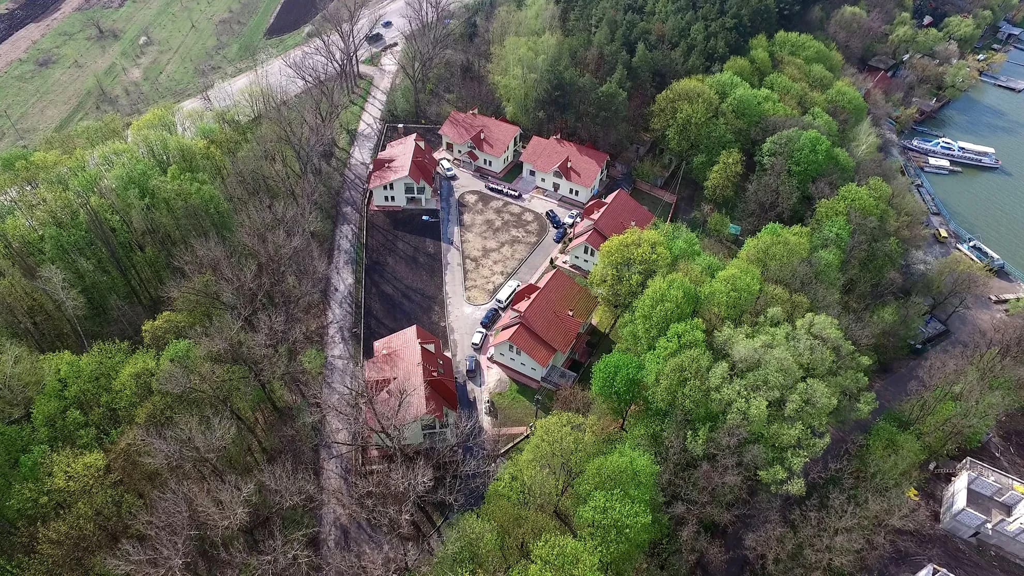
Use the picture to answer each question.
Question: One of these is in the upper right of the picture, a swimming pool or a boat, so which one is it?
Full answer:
What appears in the upper right of the picture is a boat.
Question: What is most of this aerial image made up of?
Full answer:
Most of the picture is covered by trees.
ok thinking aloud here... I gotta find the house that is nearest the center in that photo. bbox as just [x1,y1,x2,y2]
[486,269,600,390]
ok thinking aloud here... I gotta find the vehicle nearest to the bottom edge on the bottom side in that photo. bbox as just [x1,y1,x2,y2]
[466,356,478,376]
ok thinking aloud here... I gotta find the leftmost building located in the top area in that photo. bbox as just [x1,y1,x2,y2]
[367,133,438,209]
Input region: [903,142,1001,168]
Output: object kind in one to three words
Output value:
boat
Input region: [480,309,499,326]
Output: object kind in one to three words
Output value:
car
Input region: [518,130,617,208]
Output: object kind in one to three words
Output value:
house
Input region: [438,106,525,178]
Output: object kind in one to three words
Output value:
house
